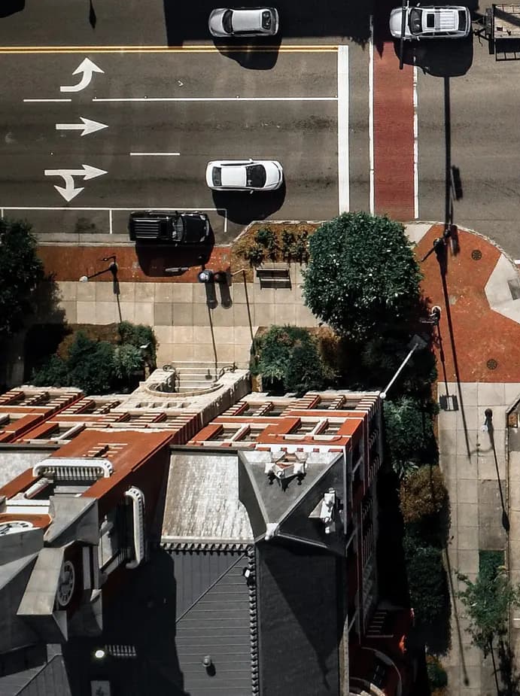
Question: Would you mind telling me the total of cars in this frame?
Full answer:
There are 4 cars in the image.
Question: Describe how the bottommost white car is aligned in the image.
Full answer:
The bottommost white car is laid out from left to right.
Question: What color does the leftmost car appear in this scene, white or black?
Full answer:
The leftmost car is black.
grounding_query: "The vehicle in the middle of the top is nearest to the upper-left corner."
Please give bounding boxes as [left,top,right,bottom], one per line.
[209,4,280,41]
